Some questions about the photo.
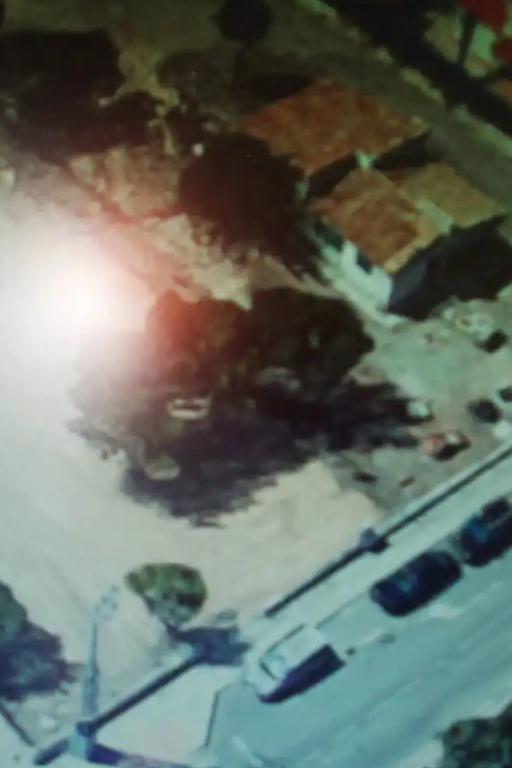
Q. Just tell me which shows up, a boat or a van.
van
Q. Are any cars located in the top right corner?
No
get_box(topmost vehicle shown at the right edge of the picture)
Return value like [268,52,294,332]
[457,497,512,565]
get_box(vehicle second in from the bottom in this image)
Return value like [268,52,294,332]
[374,543,468,622]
